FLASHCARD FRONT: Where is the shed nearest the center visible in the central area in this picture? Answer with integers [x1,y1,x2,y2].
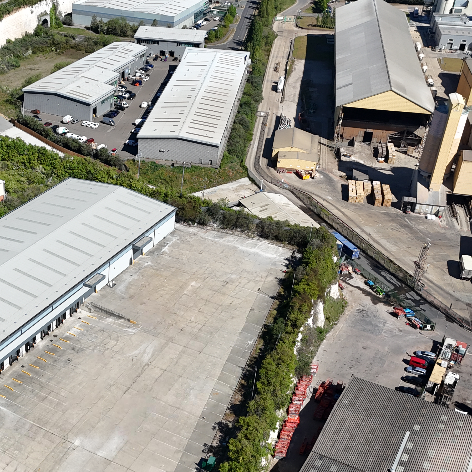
[237,193,321,234]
